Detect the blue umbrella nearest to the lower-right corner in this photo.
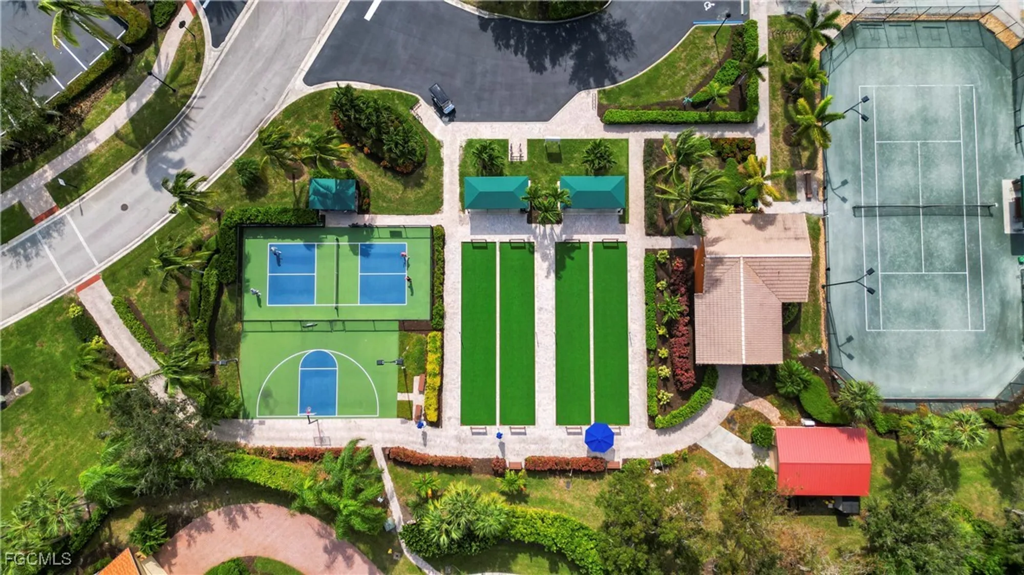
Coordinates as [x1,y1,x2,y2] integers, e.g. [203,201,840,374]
[585,424,612,451]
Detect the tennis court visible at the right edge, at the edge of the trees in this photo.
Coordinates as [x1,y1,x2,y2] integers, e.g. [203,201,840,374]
[820,21,1024,412]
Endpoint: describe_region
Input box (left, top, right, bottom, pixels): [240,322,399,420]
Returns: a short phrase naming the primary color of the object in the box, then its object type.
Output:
green basketball court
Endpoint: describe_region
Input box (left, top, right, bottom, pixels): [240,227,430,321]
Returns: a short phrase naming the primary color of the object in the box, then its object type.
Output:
green sports court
